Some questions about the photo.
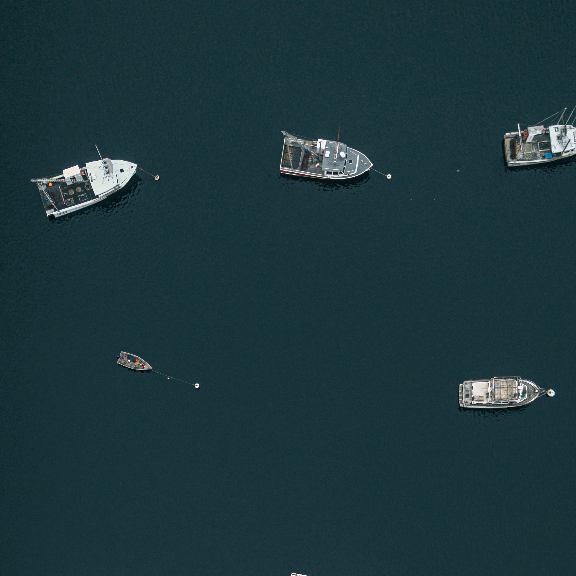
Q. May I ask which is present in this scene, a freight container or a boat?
boat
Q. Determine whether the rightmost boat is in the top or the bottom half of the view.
top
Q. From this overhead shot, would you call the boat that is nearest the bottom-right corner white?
Yes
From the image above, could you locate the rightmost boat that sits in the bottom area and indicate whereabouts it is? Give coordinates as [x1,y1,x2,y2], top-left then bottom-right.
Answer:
[460,376,544,408]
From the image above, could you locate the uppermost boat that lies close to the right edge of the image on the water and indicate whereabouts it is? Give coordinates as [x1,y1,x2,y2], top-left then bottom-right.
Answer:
[504,106,576,165]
